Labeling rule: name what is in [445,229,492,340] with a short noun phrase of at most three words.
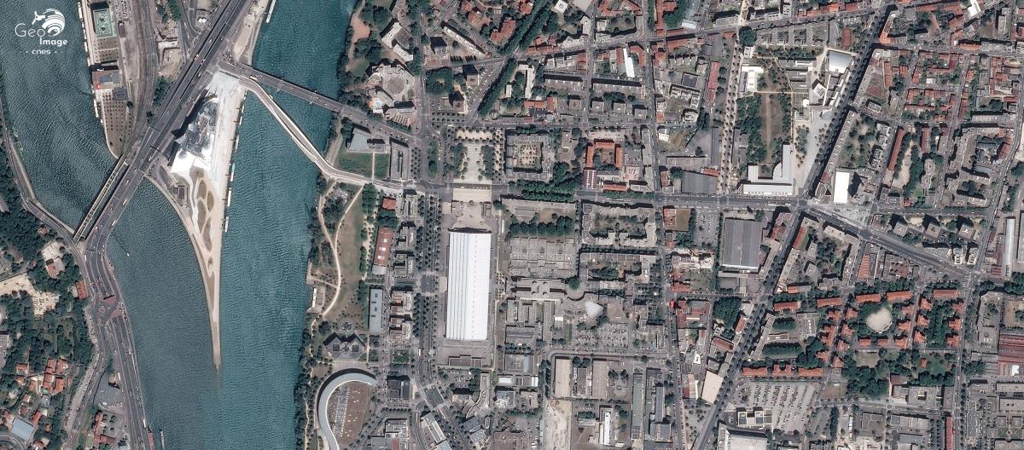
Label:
building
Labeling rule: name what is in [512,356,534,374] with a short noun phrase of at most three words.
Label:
building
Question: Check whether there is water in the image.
Yes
